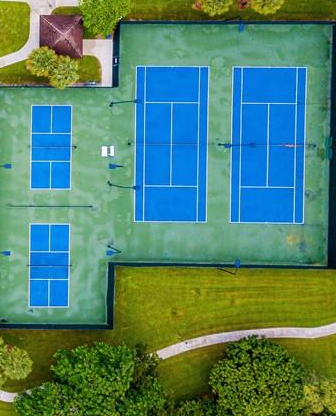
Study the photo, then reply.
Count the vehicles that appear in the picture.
0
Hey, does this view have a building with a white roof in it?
No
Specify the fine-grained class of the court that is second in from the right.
tennis court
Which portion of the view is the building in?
top left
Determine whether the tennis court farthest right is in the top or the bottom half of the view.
top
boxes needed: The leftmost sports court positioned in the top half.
[28,106,77,190]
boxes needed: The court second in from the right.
[128,65,219,223]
